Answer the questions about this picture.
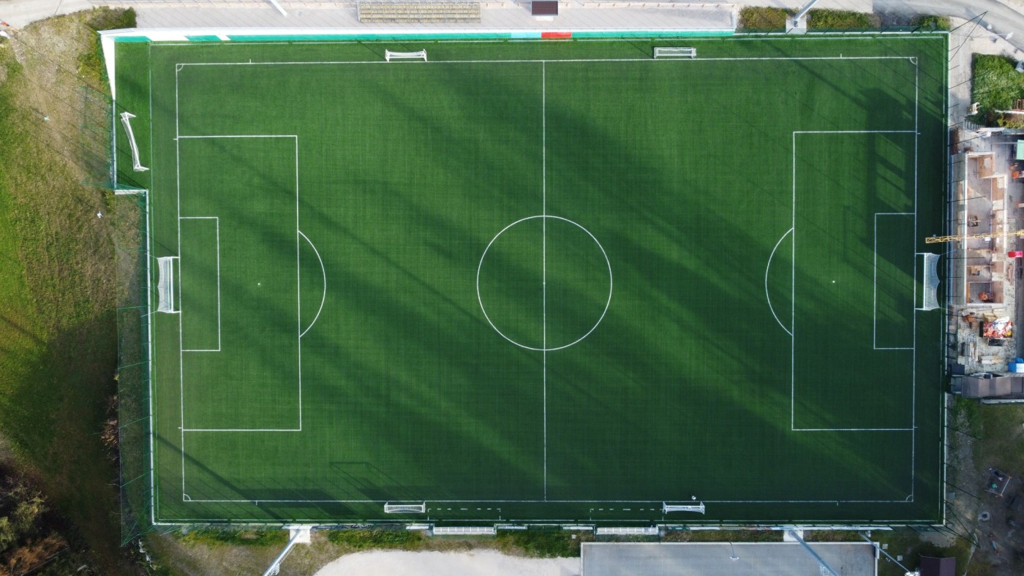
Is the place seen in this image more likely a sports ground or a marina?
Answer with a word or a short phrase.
sports ground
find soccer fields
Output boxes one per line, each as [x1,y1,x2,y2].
[115,34,947,524]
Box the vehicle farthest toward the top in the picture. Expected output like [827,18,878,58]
[964,102,984,117]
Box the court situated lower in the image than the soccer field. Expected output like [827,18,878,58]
[581,541,879,576]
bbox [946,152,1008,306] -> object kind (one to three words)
building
